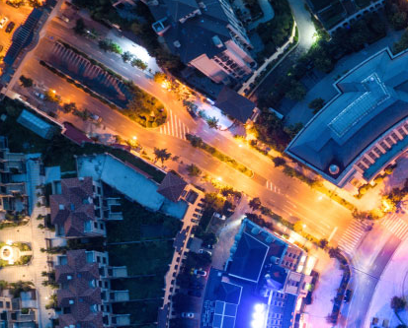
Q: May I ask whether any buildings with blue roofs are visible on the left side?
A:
Yes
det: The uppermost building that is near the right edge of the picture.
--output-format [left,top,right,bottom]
[284,46,408,194]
